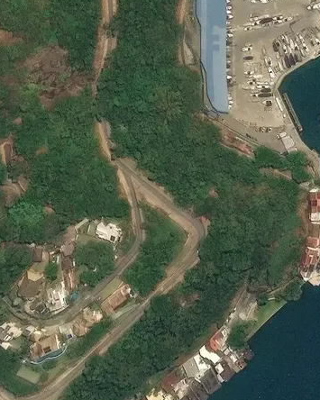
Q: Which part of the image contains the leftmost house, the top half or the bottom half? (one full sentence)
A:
It is in the bottom half that the leftmost house appears.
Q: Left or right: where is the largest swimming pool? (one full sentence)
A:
The largest swimming pool sits on the left side.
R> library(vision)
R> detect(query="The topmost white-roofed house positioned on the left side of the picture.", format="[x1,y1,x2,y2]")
[96,218,126,244]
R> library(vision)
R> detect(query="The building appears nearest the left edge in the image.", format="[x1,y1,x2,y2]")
[0,320,24,343]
